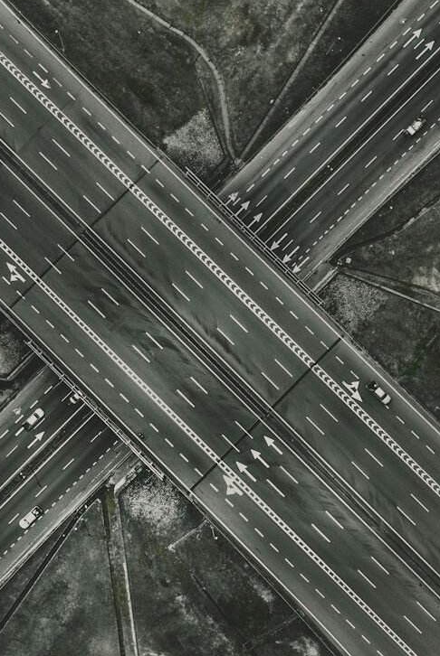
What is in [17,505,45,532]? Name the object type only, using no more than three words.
truck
